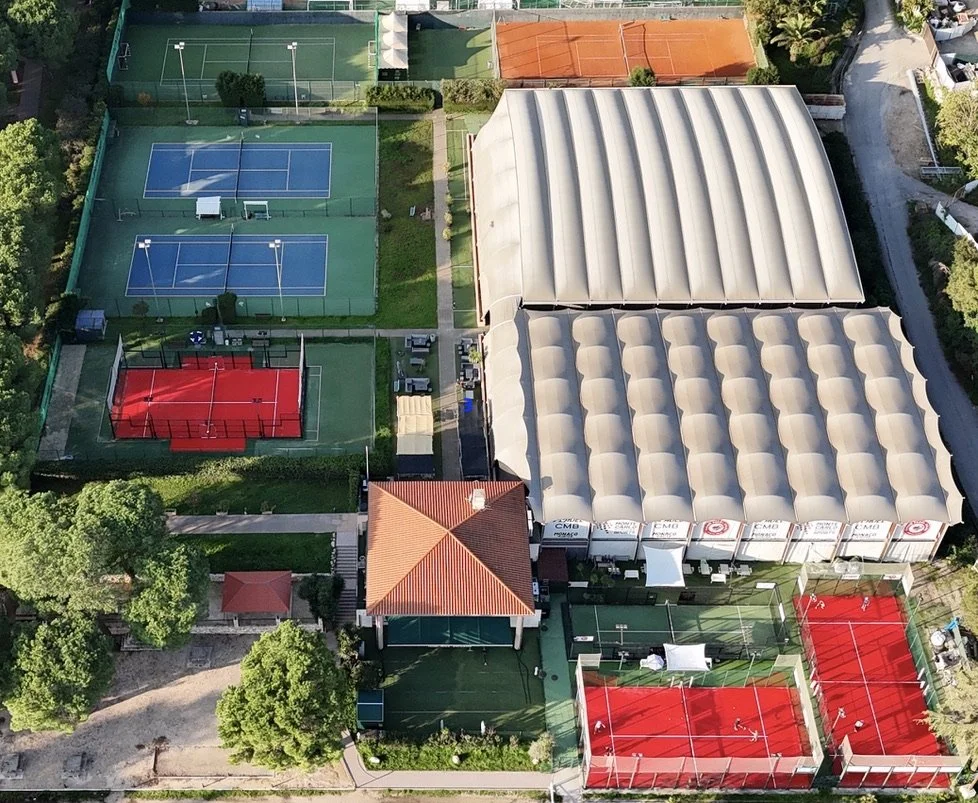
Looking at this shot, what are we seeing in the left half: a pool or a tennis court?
tennis court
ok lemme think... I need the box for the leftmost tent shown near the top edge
[381,1,414,79]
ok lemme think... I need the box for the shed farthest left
[73,312,108,340]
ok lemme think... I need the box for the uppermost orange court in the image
[497,21,755,80]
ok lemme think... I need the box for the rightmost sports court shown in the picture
[796,564,972,797]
